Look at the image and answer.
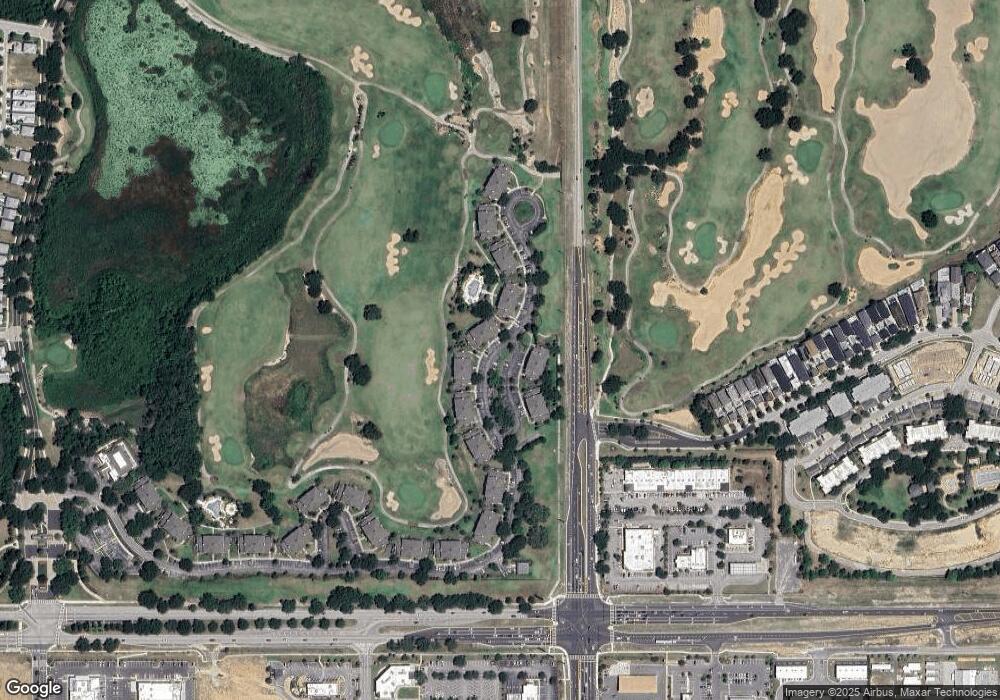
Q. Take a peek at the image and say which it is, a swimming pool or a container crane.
swimming pool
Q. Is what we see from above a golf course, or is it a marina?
golf course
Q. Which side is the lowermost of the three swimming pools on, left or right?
left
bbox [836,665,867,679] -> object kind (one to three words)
building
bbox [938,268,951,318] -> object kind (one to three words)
house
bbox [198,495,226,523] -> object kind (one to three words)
swimming pool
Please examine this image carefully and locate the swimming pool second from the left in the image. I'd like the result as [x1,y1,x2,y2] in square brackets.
[462,271,484,305]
